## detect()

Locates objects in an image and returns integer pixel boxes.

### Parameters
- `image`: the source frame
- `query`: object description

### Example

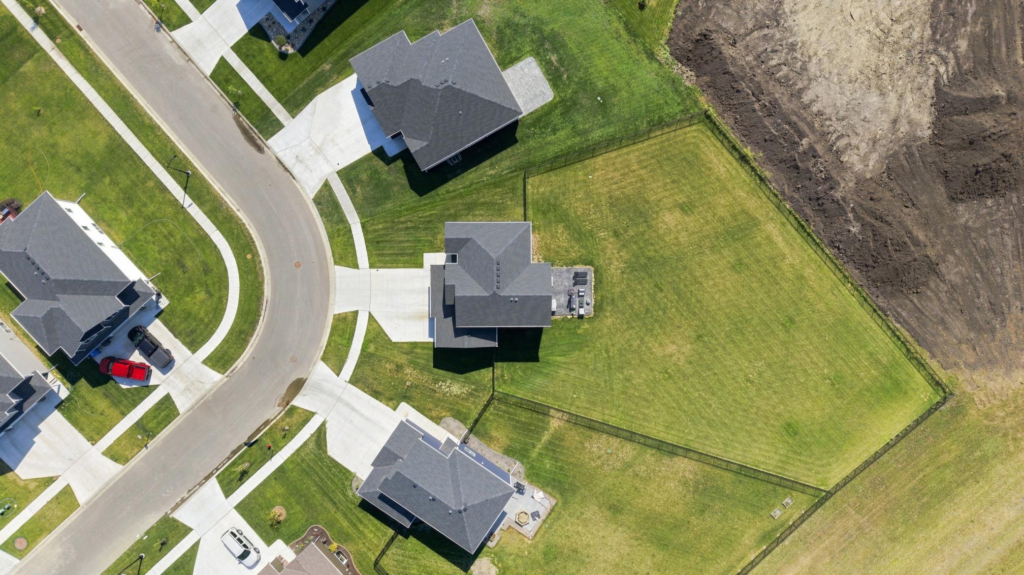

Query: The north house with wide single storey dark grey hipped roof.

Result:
[348,18,524,176]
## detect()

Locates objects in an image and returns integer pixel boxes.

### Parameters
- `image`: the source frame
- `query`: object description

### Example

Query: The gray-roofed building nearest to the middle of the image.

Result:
[430,221,557,348]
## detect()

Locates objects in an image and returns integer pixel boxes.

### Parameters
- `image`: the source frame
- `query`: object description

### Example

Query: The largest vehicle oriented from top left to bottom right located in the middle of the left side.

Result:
[126,325,176,370]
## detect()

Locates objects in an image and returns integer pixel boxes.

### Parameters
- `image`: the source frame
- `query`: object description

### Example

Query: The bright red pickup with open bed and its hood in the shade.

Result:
[100,356,155,381]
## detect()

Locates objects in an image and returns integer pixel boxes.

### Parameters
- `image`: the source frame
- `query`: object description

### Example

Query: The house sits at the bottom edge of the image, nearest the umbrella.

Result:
[355,419,518,555]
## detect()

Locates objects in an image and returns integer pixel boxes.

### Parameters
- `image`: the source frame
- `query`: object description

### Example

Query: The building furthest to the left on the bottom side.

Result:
[0,320,59,437]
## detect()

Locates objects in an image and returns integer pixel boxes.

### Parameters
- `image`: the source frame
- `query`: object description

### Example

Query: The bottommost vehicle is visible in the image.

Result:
[220,528,261,570]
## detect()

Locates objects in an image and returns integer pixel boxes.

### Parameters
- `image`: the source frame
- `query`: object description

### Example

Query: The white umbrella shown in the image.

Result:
[528,492,552,517]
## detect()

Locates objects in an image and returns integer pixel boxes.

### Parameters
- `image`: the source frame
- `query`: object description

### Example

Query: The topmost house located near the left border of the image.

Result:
[0,190,161,367]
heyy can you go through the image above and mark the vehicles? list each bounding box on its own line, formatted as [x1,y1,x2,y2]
[126,325,176,370]
[100,356,155,381]
[220,528,261,570]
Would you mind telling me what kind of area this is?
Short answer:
residential area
